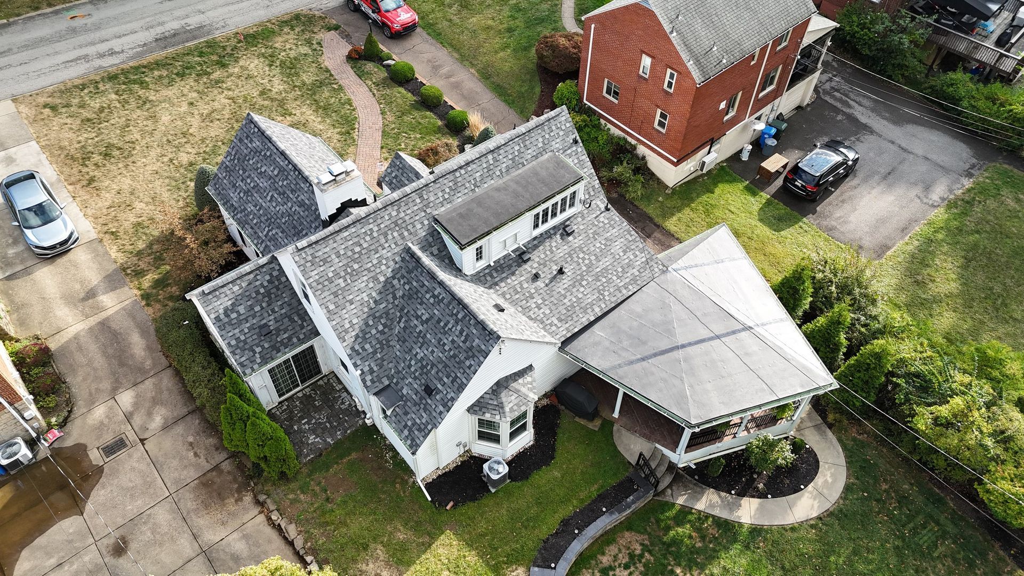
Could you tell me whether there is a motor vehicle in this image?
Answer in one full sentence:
Yes, the frame does contain a motor vehicle.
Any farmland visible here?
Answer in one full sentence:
No, the picture contains no farmland.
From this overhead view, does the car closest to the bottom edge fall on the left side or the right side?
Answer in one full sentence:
It is on the left.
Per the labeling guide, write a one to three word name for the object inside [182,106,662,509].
house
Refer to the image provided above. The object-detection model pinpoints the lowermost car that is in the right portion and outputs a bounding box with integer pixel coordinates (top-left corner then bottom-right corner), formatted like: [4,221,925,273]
[782,138,862,201]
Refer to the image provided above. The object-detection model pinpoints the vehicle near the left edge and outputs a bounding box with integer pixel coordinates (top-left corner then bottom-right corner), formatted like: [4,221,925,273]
[2,173,75,253]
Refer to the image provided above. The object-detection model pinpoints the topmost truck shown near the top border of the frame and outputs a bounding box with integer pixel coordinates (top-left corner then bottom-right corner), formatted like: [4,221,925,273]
[343,0,415,40]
